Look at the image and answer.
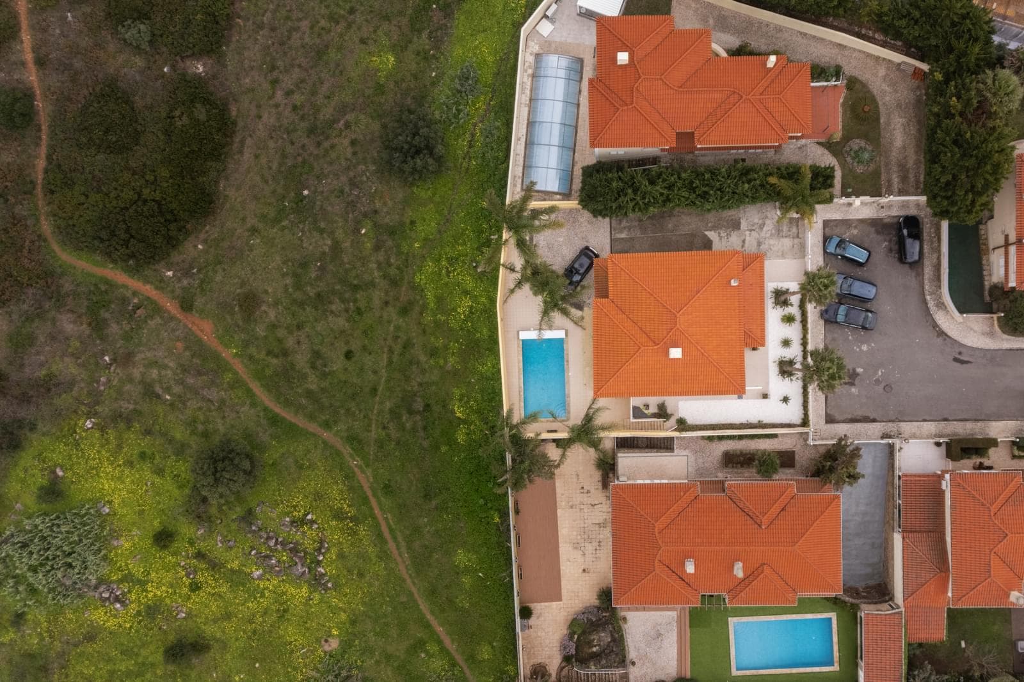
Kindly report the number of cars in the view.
five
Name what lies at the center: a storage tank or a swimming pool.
swimming pool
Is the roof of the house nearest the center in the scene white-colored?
No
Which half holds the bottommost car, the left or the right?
right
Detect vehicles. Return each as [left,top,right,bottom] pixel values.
[829,272,882,302]
[820,304,878,329]
[894,216,924,265]
[563,243,603,295]
[823,236,872,265]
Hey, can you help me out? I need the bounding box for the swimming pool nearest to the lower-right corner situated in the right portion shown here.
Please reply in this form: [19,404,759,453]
[728,613,839,676]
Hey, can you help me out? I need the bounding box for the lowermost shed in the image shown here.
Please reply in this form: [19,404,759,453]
[856,612,901,682]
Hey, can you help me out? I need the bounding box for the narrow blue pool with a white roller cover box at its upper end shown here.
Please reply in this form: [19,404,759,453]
[517,327,570,423]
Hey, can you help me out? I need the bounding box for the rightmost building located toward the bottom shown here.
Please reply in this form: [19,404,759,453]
[896,469,1024,643]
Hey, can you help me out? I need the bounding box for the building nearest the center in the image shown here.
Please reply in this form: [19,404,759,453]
[590,250,767,399]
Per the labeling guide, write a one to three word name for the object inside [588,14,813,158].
house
